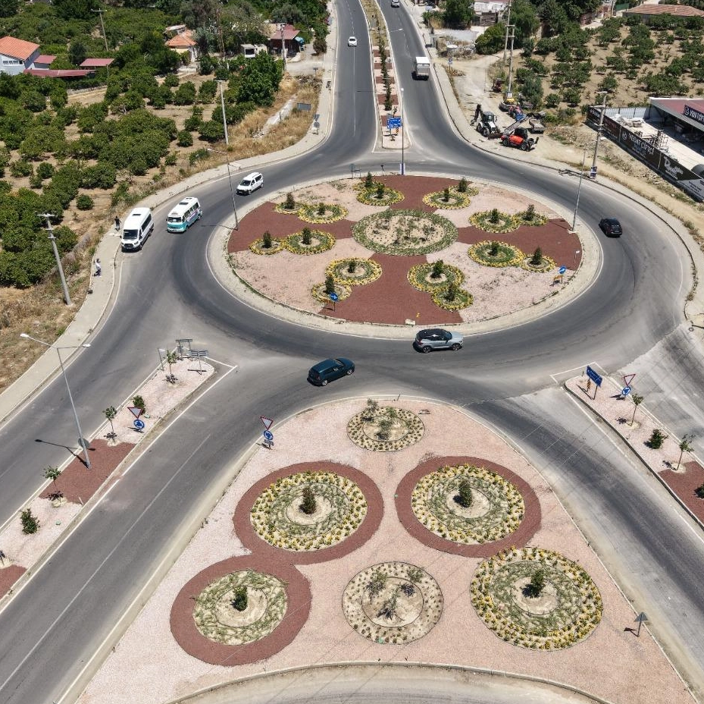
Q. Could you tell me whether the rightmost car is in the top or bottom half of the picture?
top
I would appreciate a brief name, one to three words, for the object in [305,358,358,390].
car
